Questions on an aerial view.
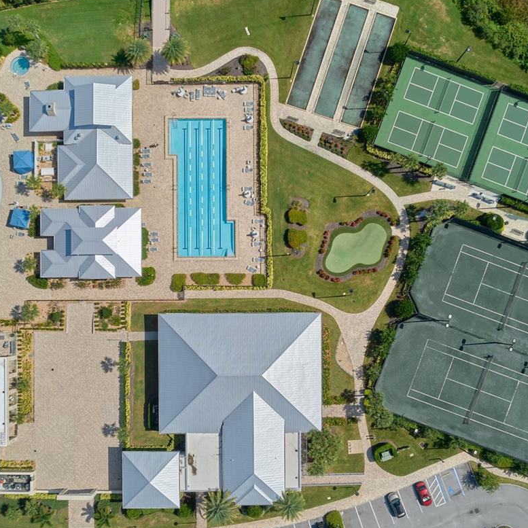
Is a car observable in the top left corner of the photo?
No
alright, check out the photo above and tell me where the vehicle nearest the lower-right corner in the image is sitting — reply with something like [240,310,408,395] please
[414,480,432,507]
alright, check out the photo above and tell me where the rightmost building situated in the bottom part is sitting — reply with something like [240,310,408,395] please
[158,312,322,506]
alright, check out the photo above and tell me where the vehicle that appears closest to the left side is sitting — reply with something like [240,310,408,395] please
[387,491,405,518]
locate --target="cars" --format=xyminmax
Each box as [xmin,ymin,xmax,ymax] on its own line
[387,491,405,518]
[414,480,432,507]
